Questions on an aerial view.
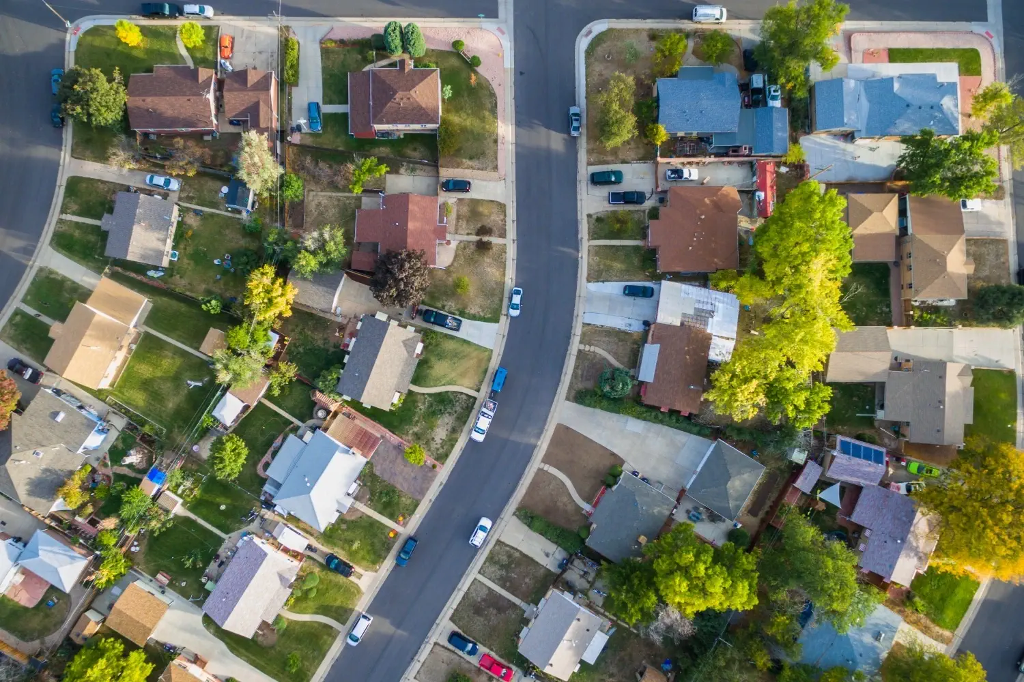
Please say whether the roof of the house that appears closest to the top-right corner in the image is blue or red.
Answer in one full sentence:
The roof of the house that appears closest to the top-right corner looks blue in the image.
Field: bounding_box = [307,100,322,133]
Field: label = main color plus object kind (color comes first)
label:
blue car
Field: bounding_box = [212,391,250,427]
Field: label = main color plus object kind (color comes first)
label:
white tent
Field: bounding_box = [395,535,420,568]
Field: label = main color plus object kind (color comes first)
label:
blue truck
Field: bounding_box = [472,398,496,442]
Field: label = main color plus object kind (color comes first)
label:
white truck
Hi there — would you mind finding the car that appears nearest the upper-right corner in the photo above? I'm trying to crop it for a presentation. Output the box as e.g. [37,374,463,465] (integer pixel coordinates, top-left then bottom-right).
[963,197,982,211]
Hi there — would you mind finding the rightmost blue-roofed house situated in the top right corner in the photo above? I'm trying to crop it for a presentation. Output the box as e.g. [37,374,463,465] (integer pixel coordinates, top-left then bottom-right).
[811,71,958,138]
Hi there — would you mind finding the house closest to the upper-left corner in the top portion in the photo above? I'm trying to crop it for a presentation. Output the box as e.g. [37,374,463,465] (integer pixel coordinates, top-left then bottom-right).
[123,64,221,132]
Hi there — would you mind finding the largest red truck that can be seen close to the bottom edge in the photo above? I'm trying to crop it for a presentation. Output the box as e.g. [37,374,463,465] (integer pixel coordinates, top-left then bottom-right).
[478,655,514,680]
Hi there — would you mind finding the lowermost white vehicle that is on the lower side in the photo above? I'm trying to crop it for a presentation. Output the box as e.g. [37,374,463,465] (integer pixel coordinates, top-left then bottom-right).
[348,611,372,646]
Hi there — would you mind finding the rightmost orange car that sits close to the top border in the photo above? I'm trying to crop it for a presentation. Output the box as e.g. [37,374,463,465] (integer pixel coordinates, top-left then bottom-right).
[219,34,234,61]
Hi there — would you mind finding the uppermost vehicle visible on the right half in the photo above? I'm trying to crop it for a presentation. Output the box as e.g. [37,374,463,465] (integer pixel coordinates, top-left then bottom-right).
[691,3,728,21]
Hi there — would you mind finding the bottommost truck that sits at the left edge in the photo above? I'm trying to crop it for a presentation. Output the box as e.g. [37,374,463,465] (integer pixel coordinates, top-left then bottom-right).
[5,357,45,386]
